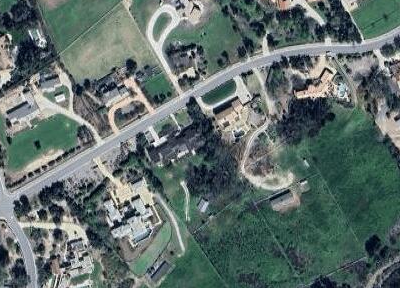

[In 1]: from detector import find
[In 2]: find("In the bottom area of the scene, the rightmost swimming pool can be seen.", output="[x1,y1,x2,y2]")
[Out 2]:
[132,226,153,242]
